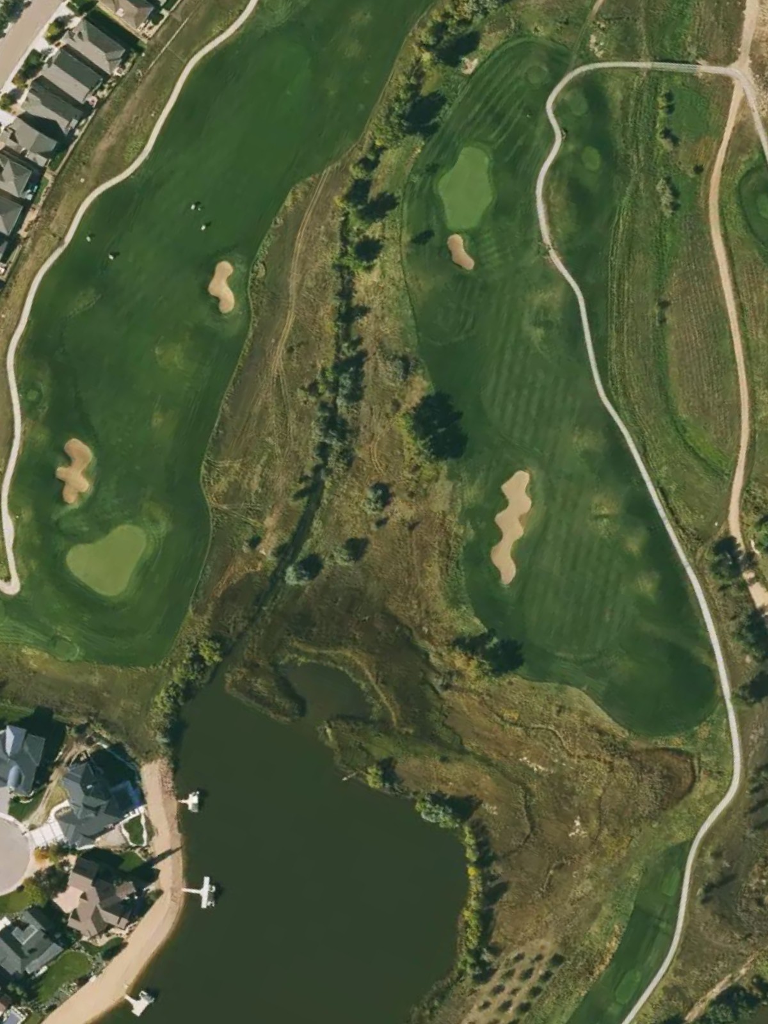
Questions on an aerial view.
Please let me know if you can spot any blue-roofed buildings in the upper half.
No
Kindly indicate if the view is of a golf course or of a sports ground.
golf course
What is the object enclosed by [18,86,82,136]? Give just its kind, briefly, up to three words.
house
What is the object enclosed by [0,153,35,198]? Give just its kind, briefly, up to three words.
house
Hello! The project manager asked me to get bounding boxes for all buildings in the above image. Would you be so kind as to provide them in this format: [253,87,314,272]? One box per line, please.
[0,194,24,235]
[0,915,65,981]
[0,153,35,198]
[57,754,131,852]
[64,856,136,938]
[0,232,13,260]
[0,115,59,168]
[38,50,101,103]
[18,86,82,136]
[0,724,45,795]
[97,0,150,27]
[62,19,125,77]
